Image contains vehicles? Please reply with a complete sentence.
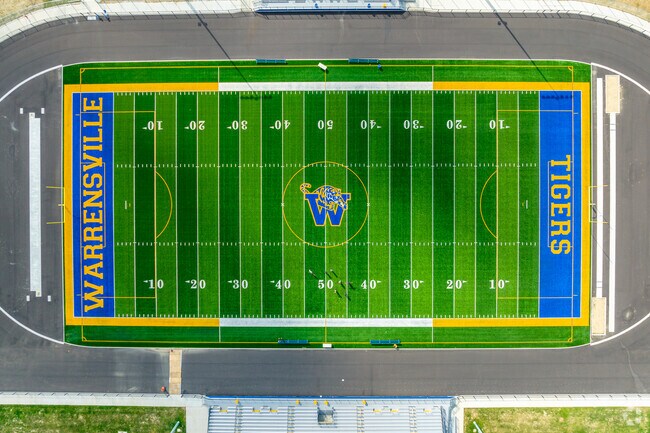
No, I can see no vehicle in this picture.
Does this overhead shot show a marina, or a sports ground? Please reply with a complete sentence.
The picture captures a sports ground.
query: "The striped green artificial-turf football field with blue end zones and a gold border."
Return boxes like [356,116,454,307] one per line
[63,60,590,349]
